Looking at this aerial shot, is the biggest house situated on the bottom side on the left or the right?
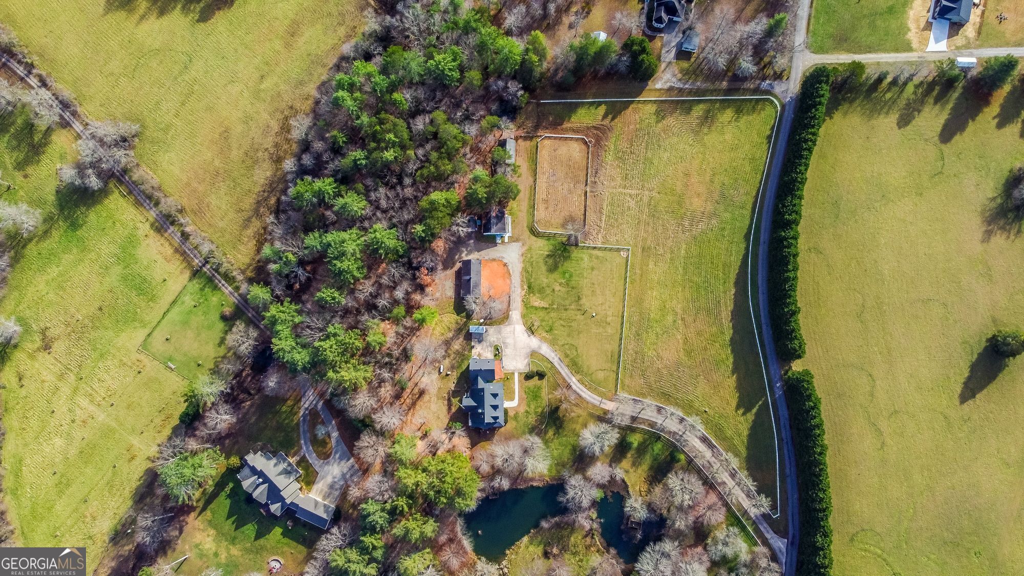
left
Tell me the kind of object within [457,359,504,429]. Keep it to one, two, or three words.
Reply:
house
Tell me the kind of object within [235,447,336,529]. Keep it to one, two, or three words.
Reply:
house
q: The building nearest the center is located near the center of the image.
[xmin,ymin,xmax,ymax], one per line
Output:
[461,259,482,297]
